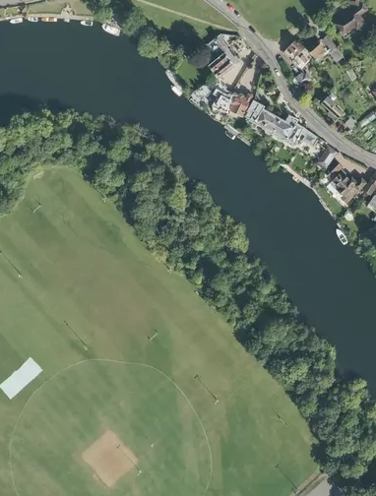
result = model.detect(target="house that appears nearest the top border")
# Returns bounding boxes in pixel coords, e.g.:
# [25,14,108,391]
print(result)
[336,2,373,38]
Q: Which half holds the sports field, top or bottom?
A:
bottom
